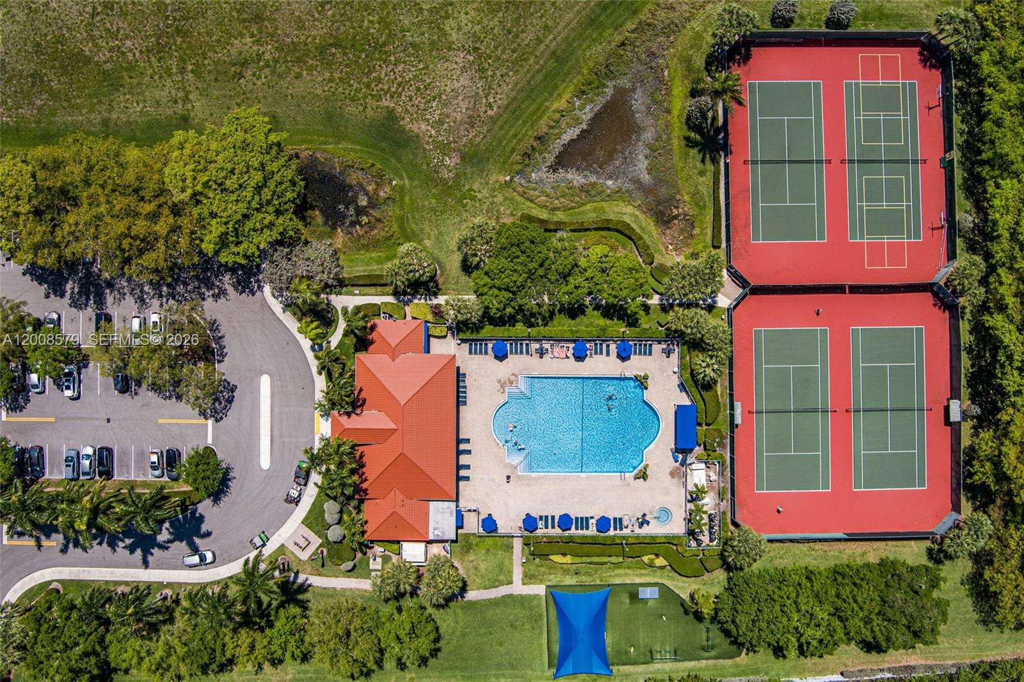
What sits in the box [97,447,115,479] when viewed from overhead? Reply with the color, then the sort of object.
black car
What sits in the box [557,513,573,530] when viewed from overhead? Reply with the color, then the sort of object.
blue umbrella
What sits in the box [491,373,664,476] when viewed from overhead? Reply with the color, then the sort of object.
blue swimming pool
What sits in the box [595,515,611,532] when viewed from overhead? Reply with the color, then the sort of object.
blue umbrella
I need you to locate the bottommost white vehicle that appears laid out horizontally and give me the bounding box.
[182,550,218,566]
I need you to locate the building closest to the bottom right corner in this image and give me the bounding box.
[690,459,705,486]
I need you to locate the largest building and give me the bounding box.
[328,319,462,541]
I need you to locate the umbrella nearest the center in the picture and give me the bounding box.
[491,341,508,357]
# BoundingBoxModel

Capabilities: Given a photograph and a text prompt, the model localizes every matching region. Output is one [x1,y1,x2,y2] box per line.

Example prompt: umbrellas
[572,341,588,358]
[616,341,632,357]
[522,514,538,531]
[481,516,497,532]
[595,515,611,532]
[491,341,508,357]
[557,513,573,530]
